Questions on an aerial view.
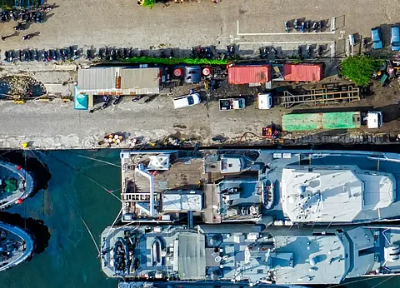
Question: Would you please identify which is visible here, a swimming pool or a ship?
ship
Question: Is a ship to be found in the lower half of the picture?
Yes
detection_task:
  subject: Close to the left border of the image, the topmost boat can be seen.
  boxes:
[0,160,40,210]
